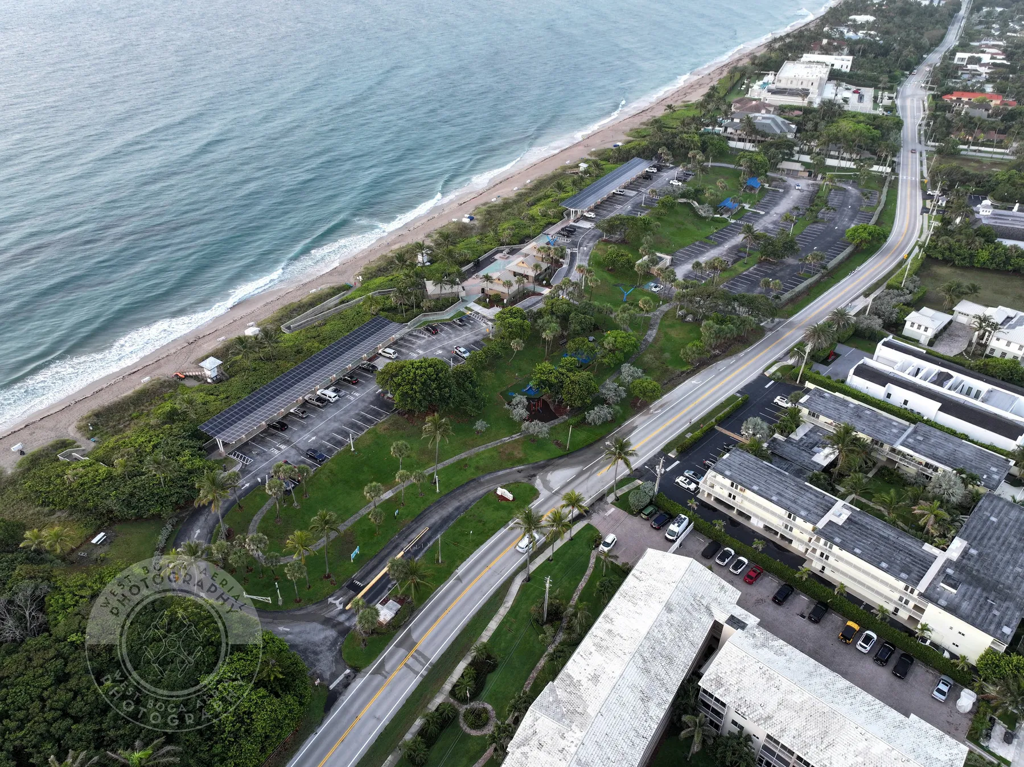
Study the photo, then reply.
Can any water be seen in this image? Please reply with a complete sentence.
Yes, there is water in the image.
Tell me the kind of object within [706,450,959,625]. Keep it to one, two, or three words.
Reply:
building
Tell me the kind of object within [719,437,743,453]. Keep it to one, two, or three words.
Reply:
car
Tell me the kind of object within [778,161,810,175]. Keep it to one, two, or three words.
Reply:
building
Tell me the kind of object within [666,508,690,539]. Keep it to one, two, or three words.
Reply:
vehicle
